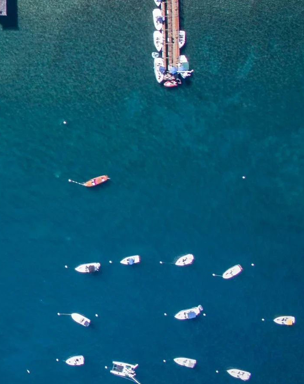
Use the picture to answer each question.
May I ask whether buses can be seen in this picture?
No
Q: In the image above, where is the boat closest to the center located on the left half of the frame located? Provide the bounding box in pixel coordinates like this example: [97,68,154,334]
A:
[84,174,110,186]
